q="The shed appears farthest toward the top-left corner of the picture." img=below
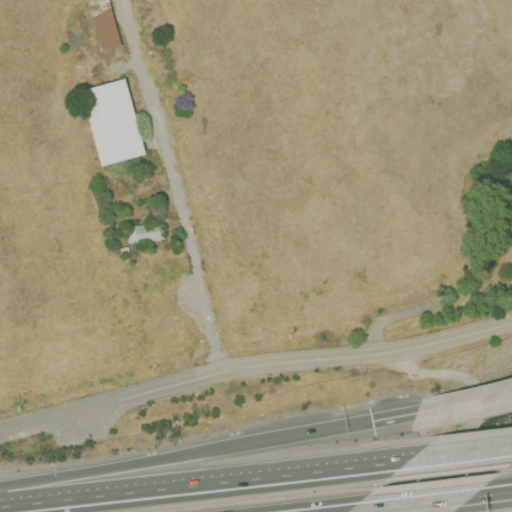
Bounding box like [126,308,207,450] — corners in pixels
[89,0,122,50]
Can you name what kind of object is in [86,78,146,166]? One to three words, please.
barn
